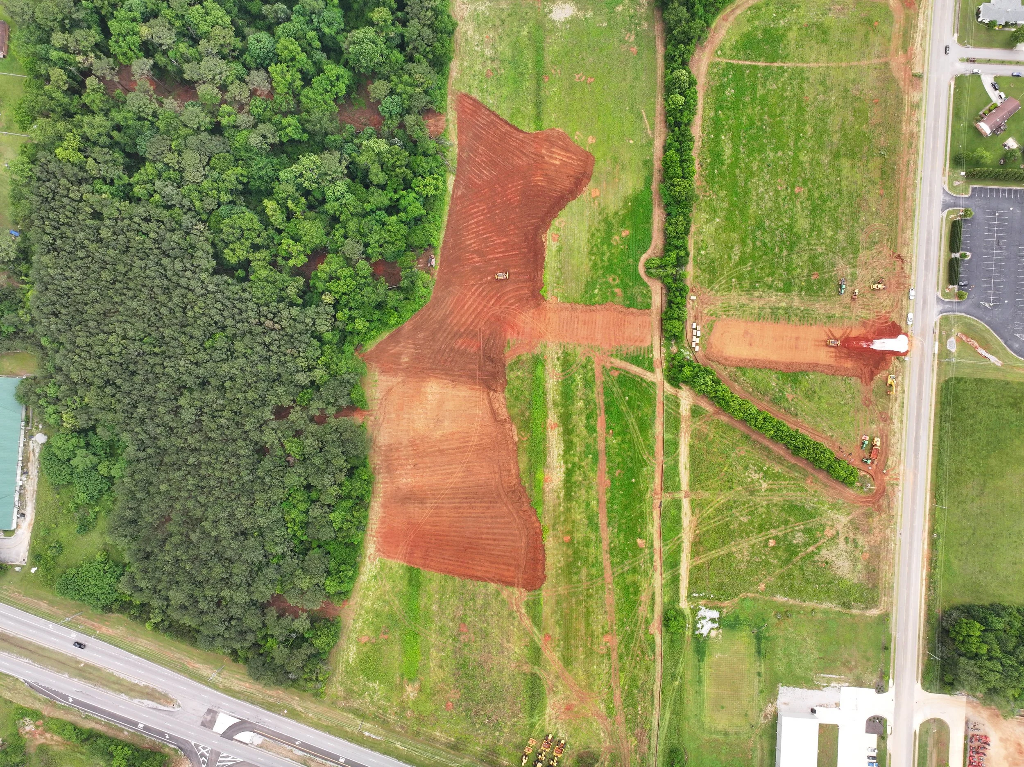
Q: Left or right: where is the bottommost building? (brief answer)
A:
right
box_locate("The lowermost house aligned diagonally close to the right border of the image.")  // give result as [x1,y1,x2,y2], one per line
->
[973,96,1020,139]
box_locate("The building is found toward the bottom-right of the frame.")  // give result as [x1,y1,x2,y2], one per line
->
[775,713,818,767]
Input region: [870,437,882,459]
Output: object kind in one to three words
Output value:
vehicle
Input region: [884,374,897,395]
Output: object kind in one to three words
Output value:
vehicle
